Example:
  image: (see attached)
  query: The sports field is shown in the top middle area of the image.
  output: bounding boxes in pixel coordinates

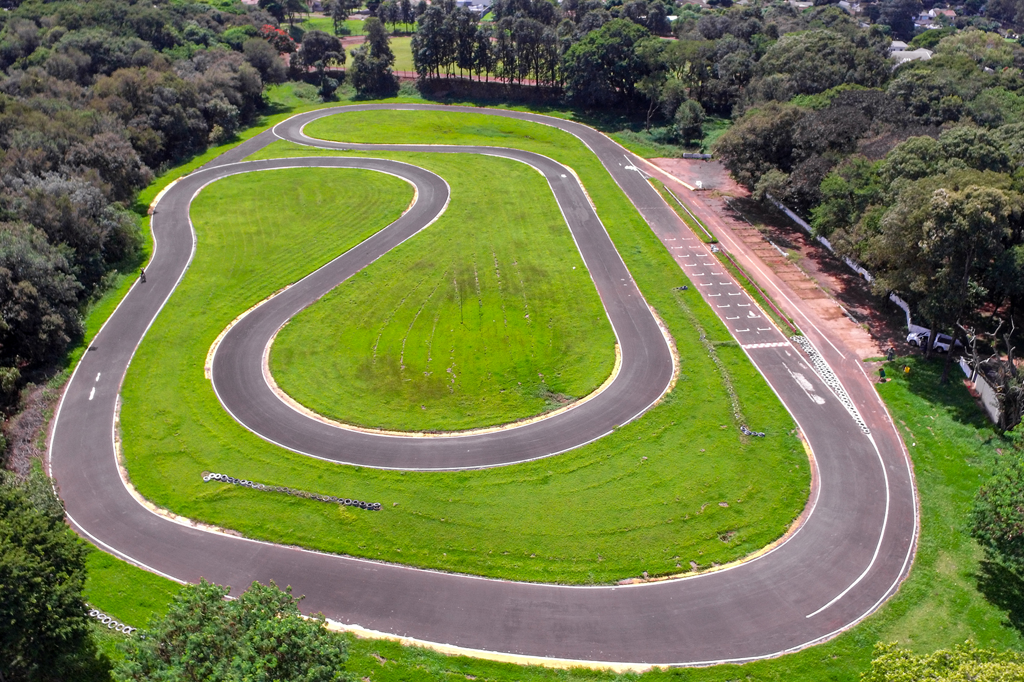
[341,38,677,80]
